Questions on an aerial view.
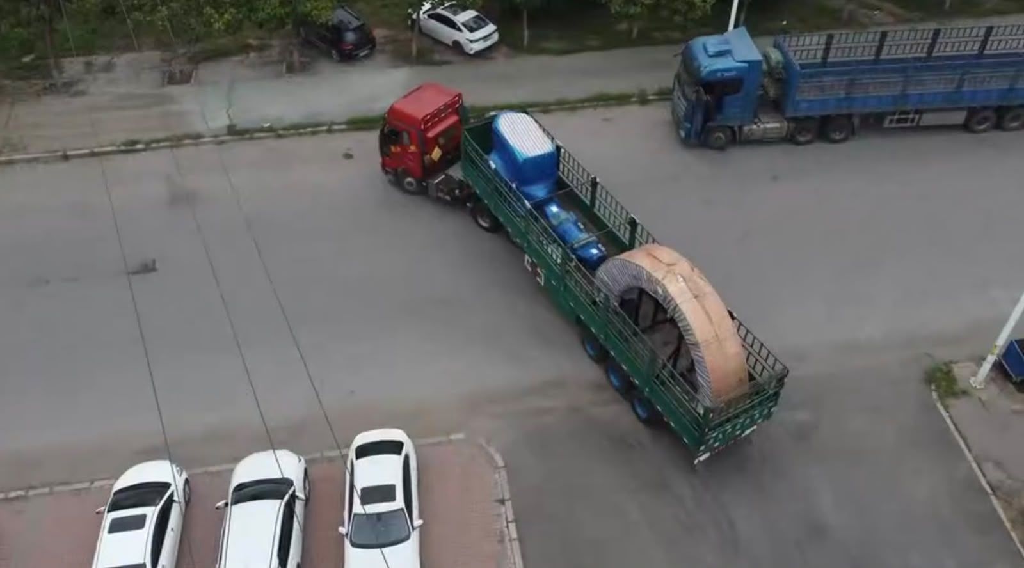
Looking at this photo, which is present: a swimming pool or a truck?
truck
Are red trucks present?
Yes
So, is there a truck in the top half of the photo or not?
Yes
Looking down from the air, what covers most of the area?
paved ground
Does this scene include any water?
No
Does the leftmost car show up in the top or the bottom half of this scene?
bottom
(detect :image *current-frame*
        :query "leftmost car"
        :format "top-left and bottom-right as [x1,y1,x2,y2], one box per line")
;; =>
[90,460,191,568]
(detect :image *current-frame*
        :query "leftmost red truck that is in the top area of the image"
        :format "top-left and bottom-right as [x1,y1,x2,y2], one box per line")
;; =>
[378,85,518,246]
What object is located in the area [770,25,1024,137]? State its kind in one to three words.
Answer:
trailer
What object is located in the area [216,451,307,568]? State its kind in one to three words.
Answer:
car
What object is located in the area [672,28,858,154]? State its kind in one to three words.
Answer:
truck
